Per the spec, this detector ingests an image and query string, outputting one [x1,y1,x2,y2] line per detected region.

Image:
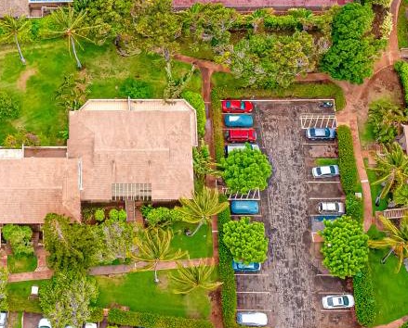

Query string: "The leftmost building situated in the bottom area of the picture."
[0,146,82,250]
